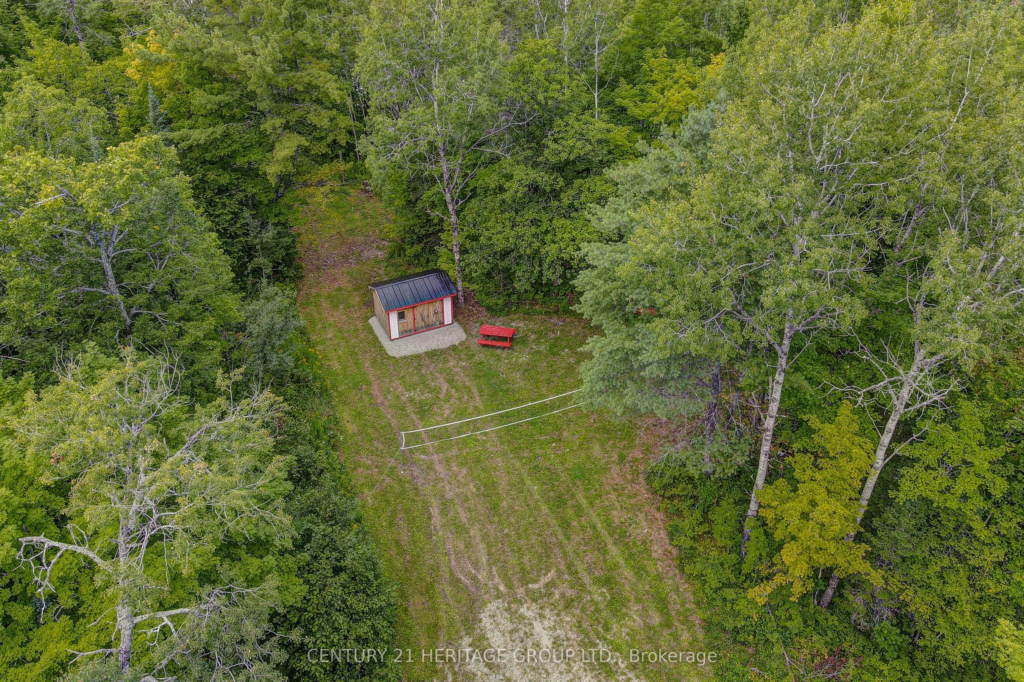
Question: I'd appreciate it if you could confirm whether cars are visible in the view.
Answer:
No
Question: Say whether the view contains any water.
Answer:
No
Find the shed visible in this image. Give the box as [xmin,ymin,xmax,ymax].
[367,269,458,340]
